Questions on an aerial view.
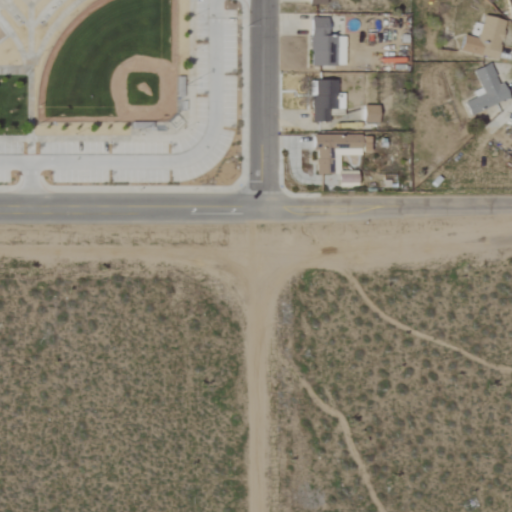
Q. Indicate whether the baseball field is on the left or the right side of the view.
left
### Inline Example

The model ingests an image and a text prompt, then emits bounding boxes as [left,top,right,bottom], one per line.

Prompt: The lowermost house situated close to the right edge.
[468,63,512,114]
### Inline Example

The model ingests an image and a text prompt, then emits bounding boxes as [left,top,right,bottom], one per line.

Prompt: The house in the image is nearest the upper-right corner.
[460,13,510,62]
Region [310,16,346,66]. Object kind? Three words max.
house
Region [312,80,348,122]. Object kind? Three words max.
house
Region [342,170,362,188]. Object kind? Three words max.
building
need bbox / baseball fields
[36,0,179,122]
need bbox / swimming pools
[347,17,362,32]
